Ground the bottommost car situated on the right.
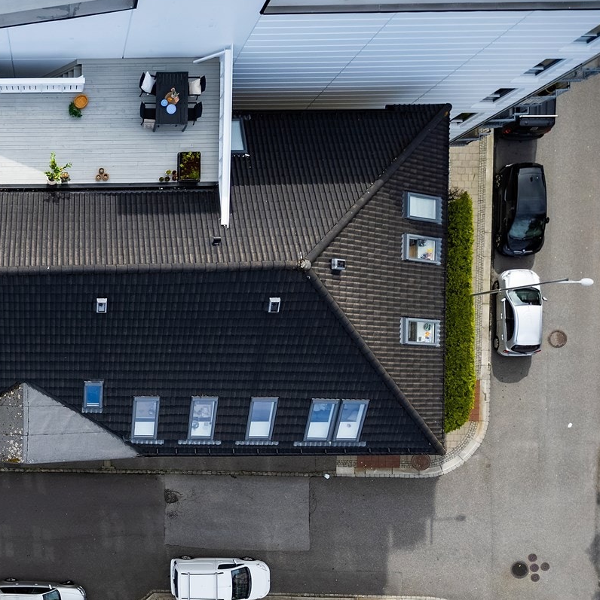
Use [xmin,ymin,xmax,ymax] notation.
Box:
[491,267,547,359]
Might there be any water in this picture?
No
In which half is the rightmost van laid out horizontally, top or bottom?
bottom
